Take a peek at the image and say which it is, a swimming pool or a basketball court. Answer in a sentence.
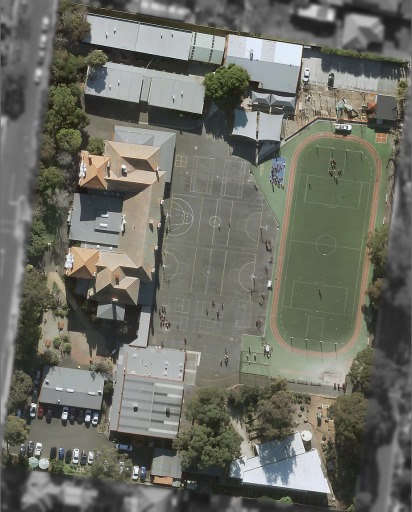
The one in the frame is a basketball court.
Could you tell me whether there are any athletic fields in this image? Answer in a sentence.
Yes, the picture does show an athletic field.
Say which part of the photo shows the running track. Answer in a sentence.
You can find the running track in the right area of the picture.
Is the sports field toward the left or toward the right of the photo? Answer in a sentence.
You can find the sports field on the right side of the picture.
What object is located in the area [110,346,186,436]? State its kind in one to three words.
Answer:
building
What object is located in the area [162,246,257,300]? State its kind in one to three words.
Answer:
basketball court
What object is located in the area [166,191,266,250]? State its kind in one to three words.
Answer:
basketball court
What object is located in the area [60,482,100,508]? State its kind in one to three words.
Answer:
house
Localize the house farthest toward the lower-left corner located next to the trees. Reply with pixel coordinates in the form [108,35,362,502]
[22,478,56,512]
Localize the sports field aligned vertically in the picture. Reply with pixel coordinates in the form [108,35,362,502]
[278,138,374,350]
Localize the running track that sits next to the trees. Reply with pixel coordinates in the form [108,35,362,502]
[274,134,378,354]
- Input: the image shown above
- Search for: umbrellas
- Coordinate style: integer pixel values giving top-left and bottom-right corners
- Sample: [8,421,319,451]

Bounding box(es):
[28,458,38,469]
[38,458,50,470]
